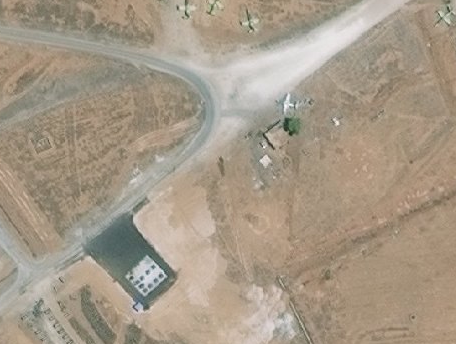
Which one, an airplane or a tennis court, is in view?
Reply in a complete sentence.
The image shows an airplane.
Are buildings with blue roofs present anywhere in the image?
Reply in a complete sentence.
No, no building with a blue roof can be seen from above.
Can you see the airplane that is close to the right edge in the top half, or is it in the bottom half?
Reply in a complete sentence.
It is in the top half that the airplane that is close to the right edge appears.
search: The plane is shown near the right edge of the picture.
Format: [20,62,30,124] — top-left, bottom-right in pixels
[435,7,455,27]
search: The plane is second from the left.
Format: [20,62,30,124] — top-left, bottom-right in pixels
[205,0,225,14]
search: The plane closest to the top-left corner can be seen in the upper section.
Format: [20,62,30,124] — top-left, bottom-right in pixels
[177,0,196,17]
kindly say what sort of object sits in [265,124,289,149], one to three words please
house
